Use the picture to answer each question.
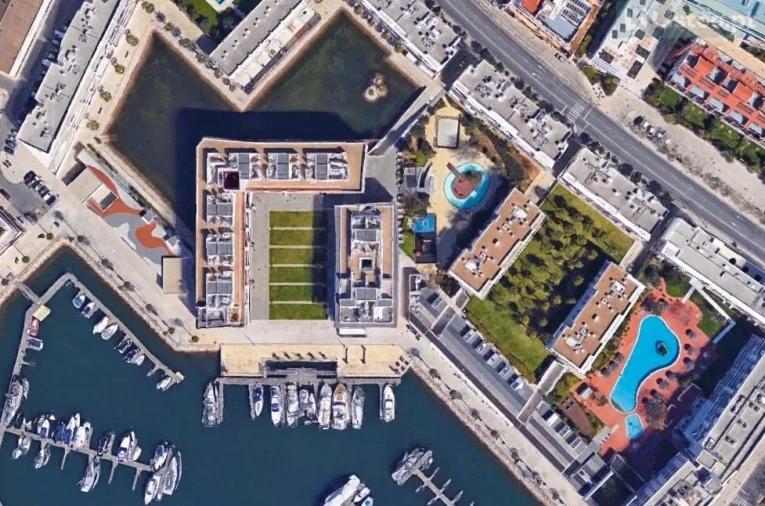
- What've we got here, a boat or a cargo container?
boat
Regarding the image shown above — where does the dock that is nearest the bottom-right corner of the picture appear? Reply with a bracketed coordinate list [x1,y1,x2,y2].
[397,448,474,506]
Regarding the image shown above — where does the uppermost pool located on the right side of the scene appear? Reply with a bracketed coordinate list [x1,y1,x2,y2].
[443,161,491,210]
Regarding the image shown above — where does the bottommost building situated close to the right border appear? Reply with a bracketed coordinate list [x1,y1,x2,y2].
[624,442,727,506]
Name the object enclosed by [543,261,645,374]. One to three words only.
building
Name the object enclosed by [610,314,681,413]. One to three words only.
swimming pool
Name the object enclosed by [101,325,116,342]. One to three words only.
boat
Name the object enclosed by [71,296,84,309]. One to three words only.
boat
